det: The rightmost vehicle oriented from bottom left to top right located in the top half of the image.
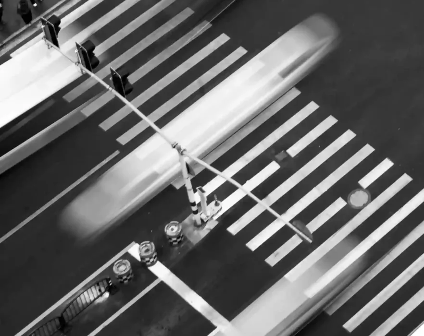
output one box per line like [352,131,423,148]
[111,46,289,200]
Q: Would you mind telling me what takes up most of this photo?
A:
paved ground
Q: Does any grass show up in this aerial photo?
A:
No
